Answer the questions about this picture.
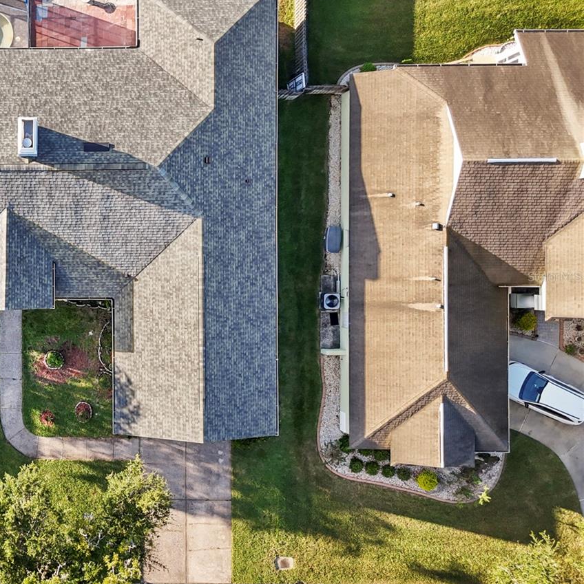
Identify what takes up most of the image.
buildings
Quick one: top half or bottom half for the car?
bottom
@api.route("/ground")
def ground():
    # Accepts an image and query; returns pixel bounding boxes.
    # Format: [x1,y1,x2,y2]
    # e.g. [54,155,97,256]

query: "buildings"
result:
[0,0,281,445]
[329,27,584,467]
